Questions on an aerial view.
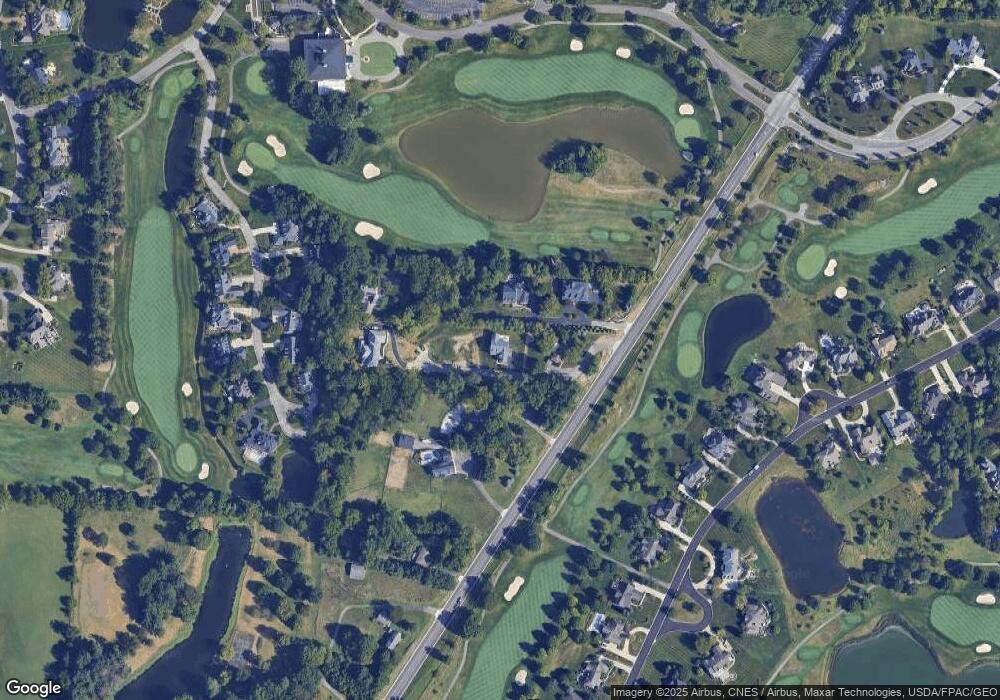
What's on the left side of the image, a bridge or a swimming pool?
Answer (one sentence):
Looking on the left side of the image, you will find a swimming pool.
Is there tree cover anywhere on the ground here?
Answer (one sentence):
Yes, the picture does contain tree cover.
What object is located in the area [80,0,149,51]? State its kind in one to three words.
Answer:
pond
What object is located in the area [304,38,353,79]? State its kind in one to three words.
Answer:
building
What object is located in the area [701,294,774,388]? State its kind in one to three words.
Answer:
pond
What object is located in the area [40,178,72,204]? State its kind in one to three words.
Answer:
house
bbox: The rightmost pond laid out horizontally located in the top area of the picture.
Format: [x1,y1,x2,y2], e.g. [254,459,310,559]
[400,104,682,222]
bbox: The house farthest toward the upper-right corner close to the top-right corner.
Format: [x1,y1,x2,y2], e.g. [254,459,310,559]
[947,28,989,64]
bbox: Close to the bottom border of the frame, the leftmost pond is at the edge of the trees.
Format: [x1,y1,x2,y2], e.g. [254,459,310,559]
[115,526,249,700]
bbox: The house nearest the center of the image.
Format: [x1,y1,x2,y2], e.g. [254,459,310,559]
[489,333,510,365]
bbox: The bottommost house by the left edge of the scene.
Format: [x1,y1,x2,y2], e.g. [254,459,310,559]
[26,318,62,350]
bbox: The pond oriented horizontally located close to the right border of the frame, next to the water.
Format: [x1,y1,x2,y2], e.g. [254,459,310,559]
[814,625,1000,700]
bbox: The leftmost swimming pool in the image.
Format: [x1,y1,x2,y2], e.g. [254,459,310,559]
[48,10,71,32]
